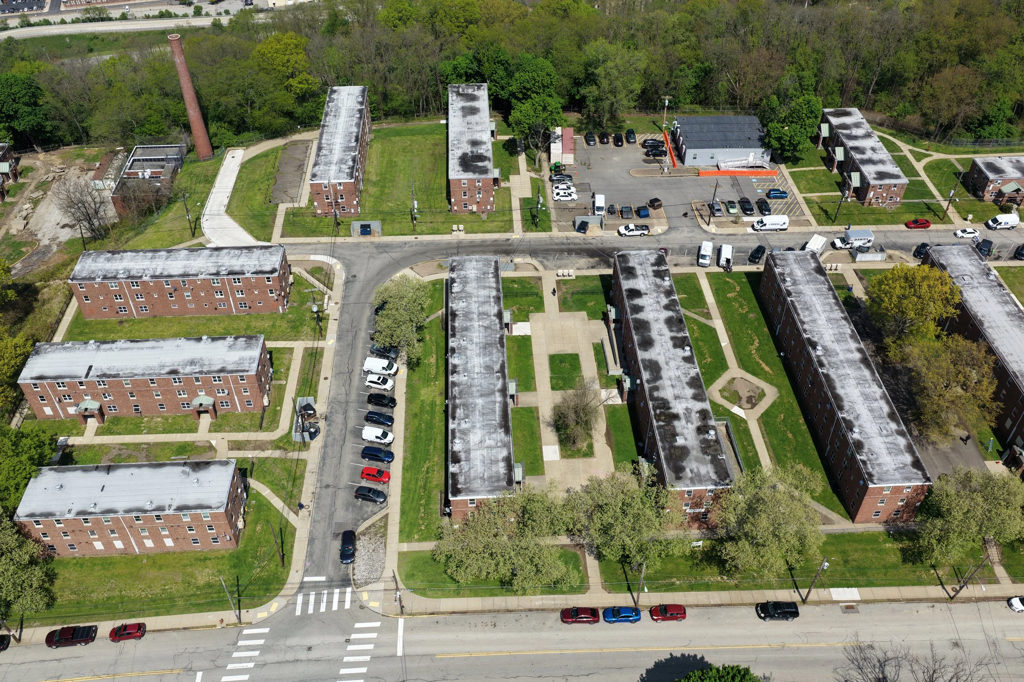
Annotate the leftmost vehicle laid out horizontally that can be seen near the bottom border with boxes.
[45,625,99,649]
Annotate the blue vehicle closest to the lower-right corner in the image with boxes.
[602,606,642,625]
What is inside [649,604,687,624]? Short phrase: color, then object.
red car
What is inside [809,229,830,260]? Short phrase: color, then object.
white truck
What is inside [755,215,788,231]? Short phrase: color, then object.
white vehicle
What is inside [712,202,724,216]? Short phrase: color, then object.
gray vehicle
